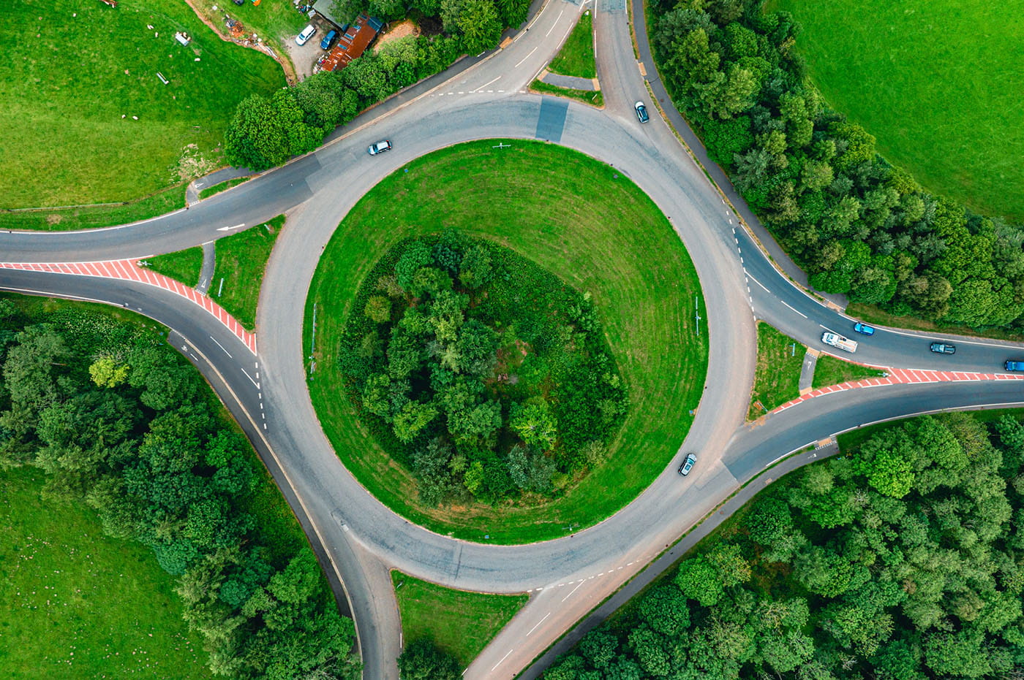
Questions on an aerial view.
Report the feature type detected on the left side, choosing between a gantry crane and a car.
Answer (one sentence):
Visible on the left side is a car.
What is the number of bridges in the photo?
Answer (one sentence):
The count of bridges is 0.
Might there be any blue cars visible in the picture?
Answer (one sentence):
Yes, a blue car is visible in the scene.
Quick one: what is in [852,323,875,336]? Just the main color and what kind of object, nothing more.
blue vehicle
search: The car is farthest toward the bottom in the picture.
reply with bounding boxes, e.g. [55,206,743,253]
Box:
[678,452,696,478]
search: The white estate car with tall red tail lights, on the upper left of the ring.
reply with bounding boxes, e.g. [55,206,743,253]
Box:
[368,139,393,155]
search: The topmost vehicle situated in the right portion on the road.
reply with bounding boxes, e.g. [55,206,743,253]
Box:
[634,101,649,124]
